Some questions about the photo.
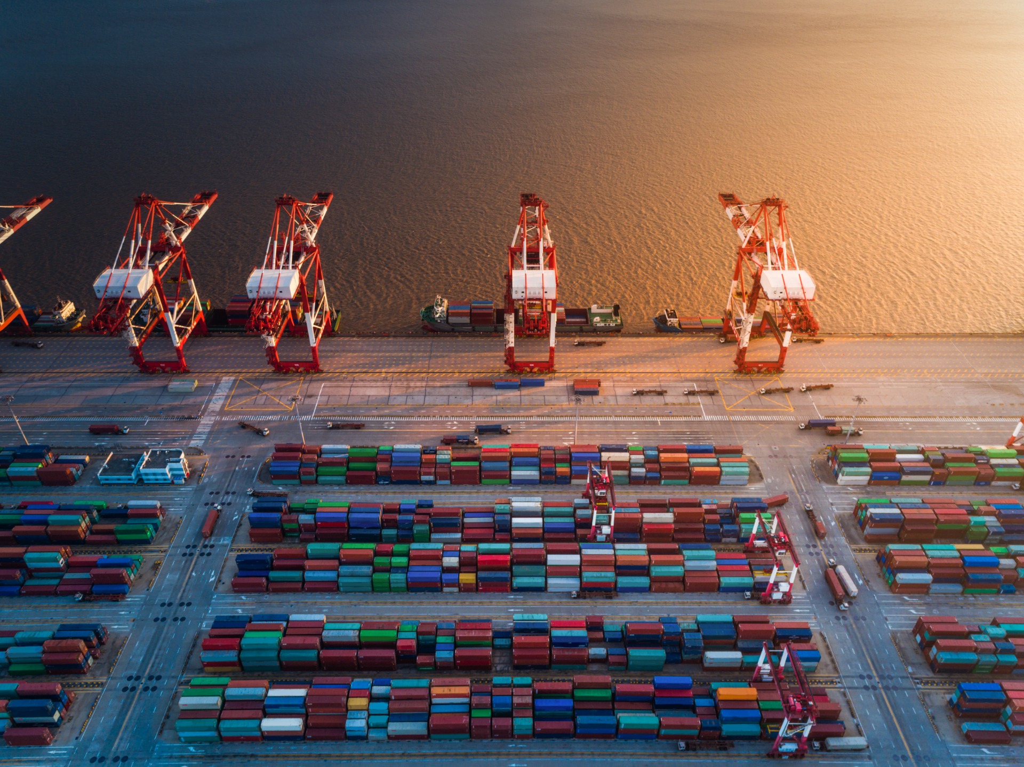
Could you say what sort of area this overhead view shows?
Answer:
port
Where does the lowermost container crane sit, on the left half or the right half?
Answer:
right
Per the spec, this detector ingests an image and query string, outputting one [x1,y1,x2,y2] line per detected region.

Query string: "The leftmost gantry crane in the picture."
[0,191,53,337]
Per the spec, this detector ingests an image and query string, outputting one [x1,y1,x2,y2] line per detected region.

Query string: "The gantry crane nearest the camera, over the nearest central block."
[748,639,823,763]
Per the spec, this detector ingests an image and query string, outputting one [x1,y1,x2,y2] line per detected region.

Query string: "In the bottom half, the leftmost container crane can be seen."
[584,457,620,546]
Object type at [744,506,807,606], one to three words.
container crane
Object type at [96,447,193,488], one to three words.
building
